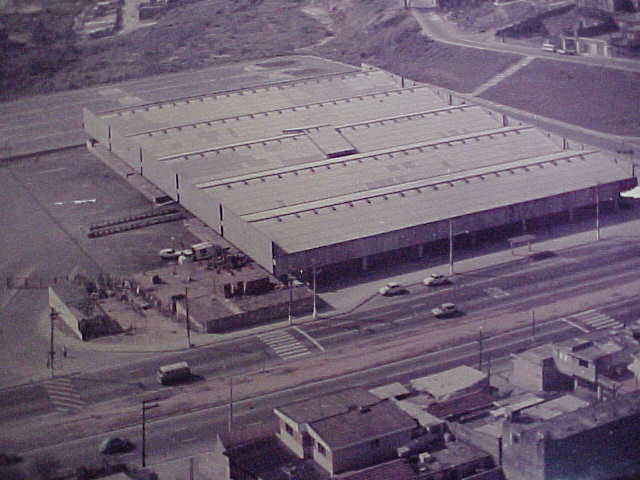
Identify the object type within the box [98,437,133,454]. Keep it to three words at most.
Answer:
car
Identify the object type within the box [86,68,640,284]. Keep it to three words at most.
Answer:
building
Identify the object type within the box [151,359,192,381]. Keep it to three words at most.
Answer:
vehicle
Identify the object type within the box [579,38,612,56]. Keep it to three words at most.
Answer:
house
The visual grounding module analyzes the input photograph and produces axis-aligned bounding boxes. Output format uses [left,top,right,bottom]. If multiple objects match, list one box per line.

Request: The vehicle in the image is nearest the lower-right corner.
[430,302,460,317]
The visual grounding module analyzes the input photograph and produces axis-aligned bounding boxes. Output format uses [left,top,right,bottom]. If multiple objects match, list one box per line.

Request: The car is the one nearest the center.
[378,281,406,294]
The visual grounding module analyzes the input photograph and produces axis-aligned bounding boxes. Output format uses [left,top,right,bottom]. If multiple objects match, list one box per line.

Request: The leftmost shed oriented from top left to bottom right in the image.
[42,280,105,339]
